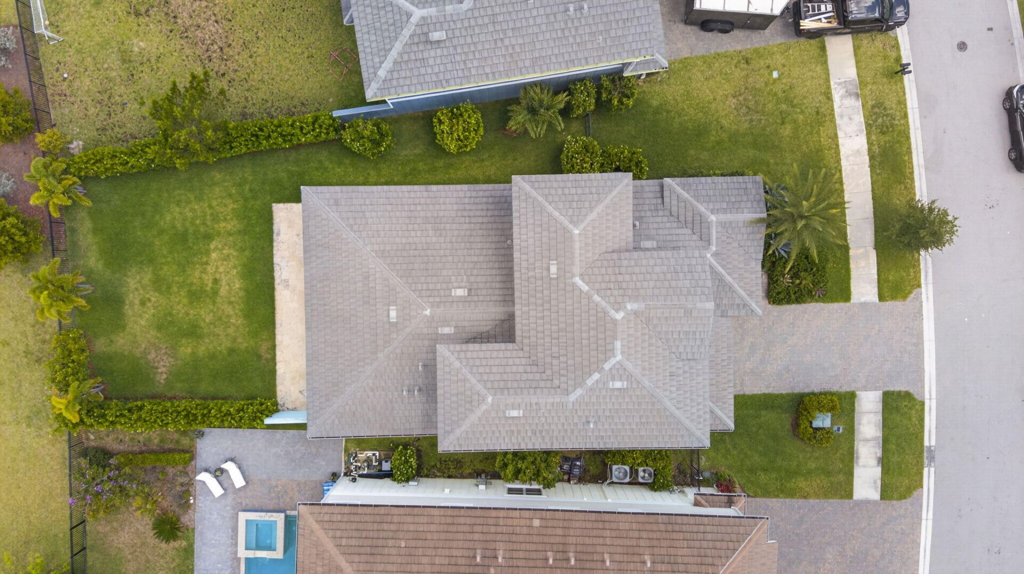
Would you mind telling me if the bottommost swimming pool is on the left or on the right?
left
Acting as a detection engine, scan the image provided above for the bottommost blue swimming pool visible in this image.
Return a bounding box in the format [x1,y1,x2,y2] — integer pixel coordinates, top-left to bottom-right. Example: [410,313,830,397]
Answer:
[237,546,294,574]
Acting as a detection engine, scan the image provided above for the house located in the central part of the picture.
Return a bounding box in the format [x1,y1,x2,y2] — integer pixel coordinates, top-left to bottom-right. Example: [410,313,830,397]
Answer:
[300,171,769,456]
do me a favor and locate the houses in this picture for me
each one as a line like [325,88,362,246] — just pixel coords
[300,171,769,456]
[293,476,782,574]
[339,0,670,117]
